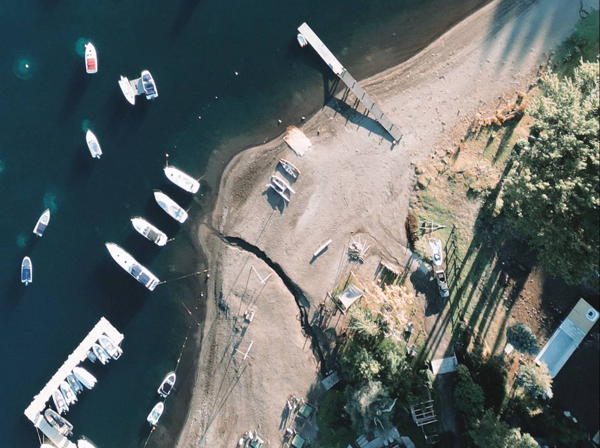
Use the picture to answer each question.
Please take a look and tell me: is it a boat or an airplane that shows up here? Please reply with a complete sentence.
The one in the frame is a boat.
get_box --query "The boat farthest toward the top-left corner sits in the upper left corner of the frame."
[85,41,98,76]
